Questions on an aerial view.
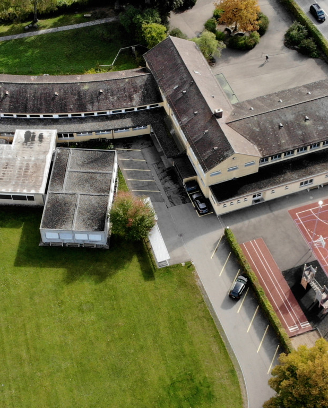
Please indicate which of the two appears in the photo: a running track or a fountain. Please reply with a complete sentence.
The one in the frame is a running track.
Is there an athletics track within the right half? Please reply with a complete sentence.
Yes, an athletics track appears within the right half.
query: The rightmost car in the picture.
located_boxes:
[310,2,325,19]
